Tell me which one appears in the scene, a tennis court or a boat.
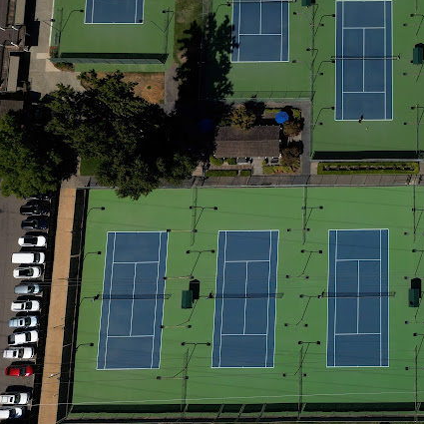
tennis court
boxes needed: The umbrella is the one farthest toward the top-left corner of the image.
[200,119,213,132]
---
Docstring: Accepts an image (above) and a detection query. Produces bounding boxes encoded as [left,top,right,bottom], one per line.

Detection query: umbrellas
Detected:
[200,119,213,132]
[276,110,290,123]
